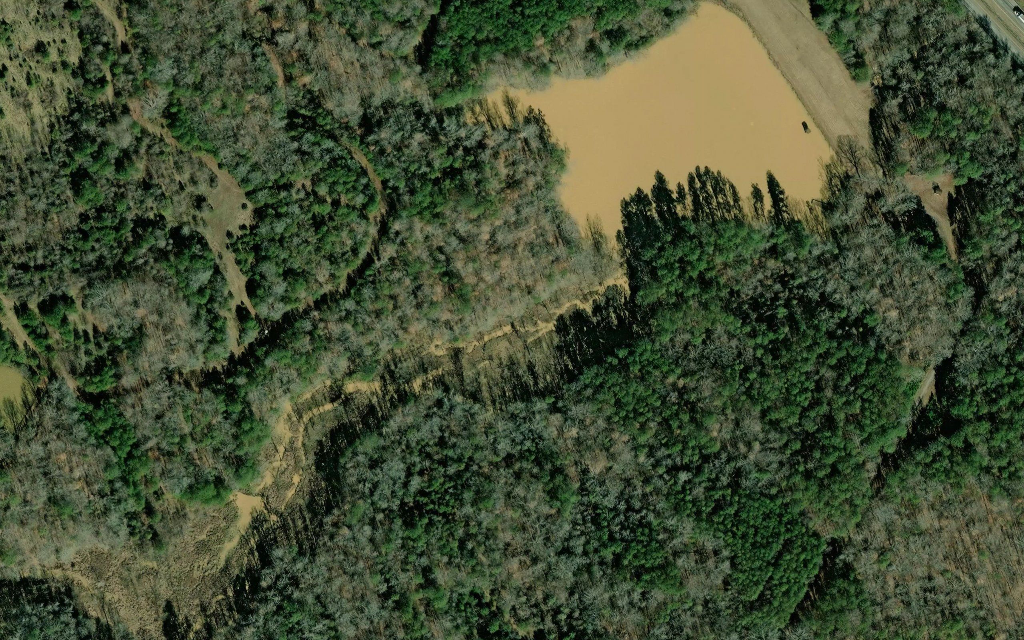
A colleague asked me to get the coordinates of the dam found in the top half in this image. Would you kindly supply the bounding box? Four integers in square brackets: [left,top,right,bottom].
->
[713,0,875,178]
